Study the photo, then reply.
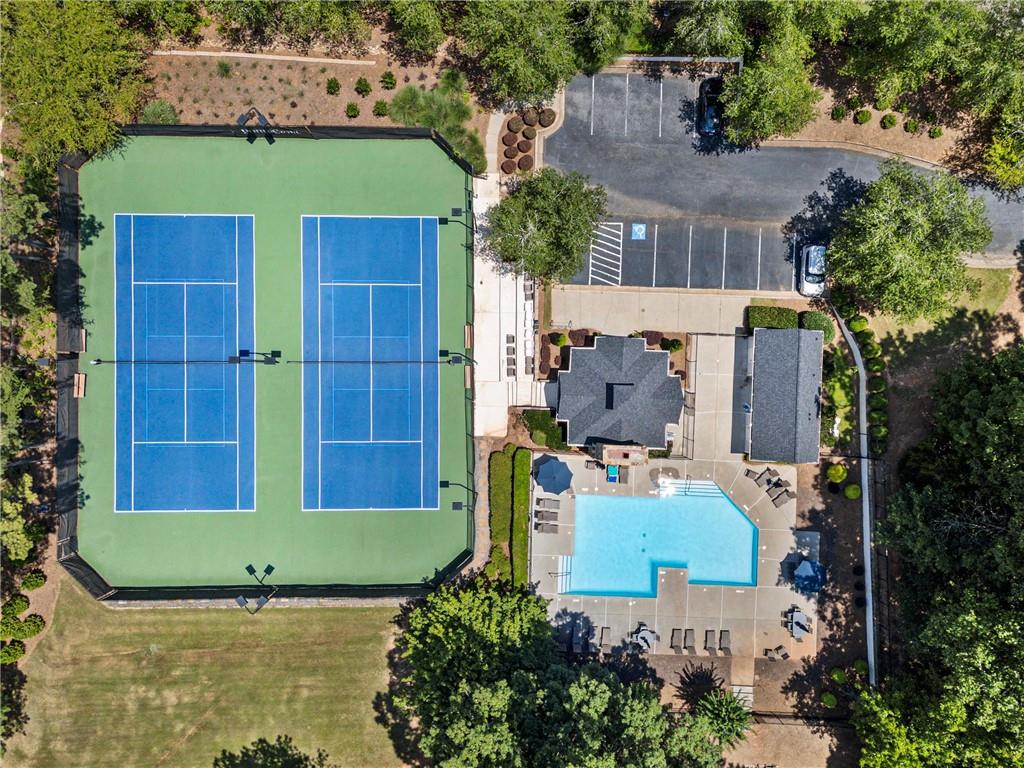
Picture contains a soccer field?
No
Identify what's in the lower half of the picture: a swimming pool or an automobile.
swimming pool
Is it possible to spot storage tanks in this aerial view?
No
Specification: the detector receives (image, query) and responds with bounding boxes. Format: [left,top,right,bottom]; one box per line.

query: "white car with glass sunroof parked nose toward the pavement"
[797,243,828,299]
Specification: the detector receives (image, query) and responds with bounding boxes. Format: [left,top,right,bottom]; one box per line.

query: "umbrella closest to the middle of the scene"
[534,456,572,494]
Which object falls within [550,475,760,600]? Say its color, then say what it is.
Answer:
blue swimming pool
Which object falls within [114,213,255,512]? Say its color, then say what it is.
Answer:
blue tennis court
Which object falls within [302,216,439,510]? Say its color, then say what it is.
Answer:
blue tennis court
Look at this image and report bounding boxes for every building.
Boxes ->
[556,335,686,452]
[744,328,825,466]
